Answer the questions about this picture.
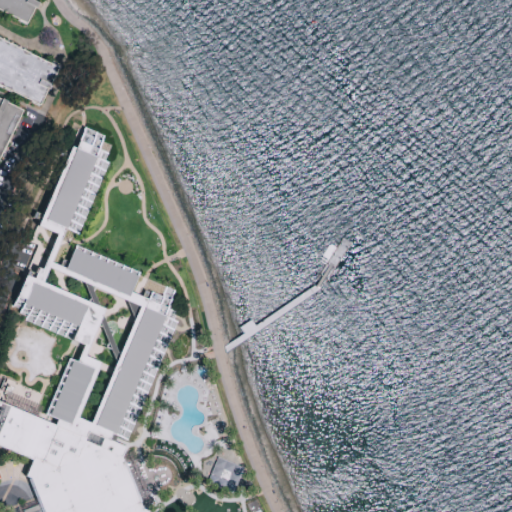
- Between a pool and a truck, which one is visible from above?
pool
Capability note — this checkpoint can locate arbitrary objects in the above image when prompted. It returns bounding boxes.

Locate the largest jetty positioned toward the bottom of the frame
[224,284,322,352]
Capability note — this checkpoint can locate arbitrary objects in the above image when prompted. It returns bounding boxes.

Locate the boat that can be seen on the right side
[322,243,336,262]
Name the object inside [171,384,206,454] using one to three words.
swimming pool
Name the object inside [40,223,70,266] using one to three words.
building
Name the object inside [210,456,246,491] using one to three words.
building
